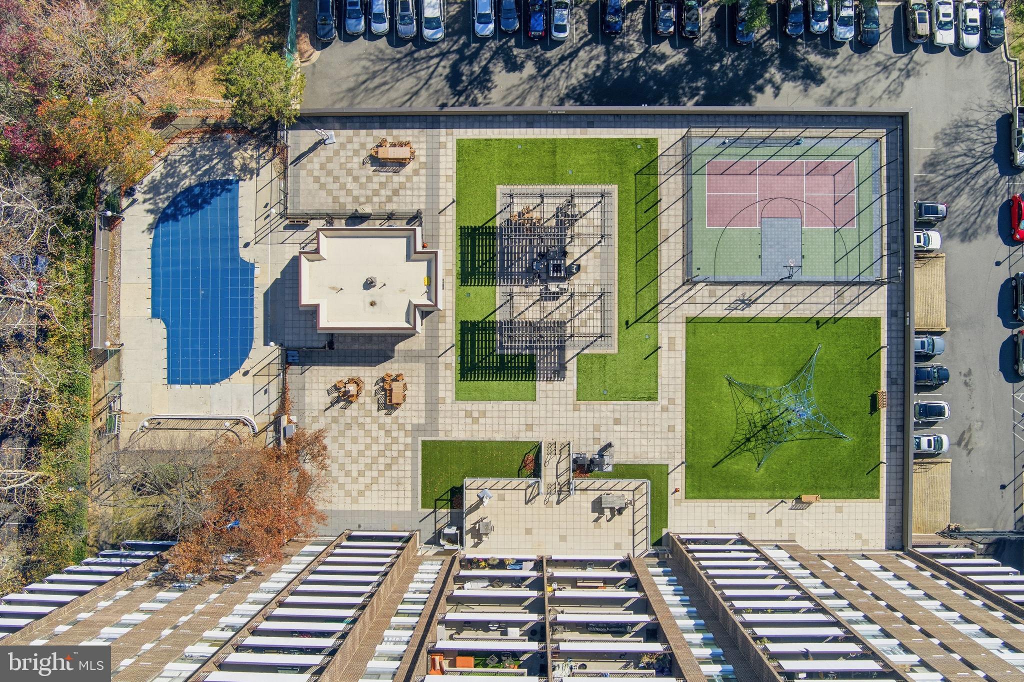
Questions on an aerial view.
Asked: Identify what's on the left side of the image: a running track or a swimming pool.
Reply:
swimming pool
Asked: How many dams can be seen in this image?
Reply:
zero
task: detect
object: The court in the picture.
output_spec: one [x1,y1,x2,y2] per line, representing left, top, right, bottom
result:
[688,138,881,283]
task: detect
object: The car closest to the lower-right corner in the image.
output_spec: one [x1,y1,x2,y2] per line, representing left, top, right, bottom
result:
[914,432,949,455]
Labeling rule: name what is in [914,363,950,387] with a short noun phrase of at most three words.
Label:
car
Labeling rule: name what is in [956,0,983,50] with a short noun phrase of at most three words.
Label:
car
